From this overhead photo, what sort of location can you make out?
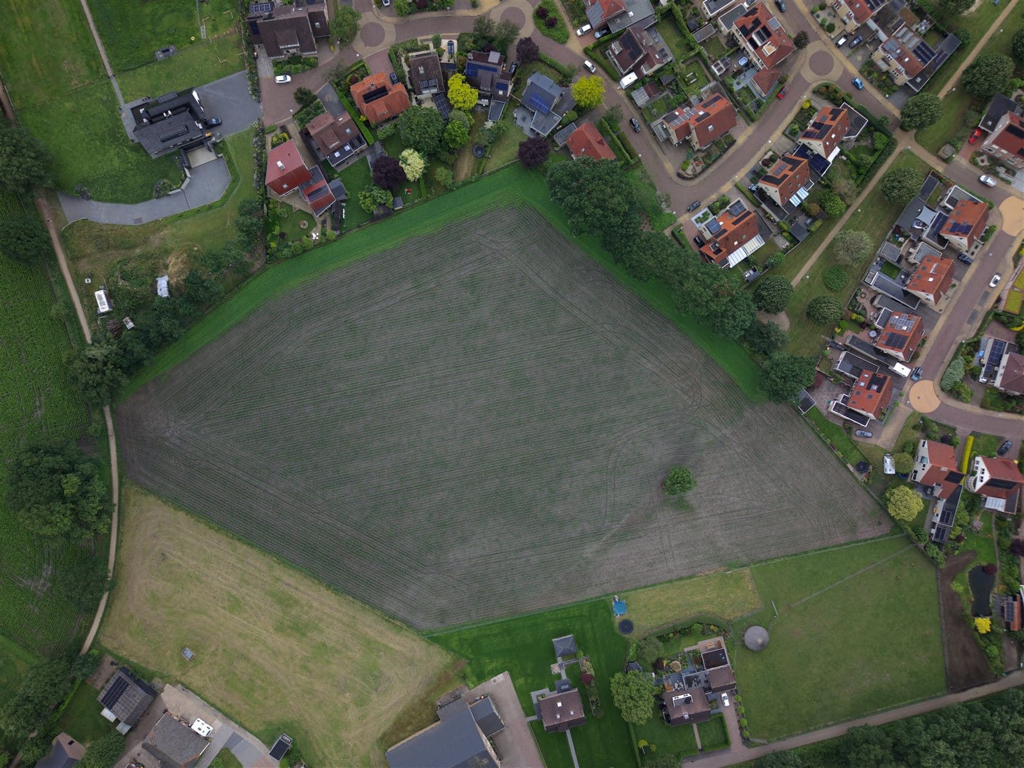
residential area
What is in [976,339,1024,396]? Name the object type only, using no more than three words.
house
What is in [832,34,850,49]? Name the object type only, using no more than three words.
car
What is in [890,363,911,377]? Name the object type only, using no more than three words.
camper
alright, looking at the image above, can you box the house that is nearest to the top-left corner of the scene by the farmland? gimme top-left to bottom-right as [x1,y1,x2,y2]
[132,86,217,169]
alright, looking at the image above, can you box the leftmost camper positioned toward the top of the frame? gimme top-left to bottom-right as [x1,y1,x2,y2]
[98,289,113,311]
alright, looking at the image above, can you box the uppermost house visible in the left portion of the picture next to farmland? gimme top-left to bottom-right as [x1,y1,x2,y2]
[246,0,331,61]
